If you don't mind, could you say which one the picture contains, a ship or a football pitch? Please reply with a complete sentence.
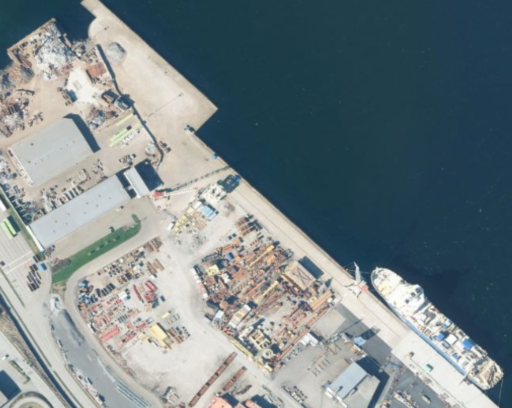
The one in the frame is a ship.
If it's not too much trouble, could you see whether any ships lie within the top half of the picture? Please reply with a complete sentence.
No, the scene shows no ship within the top half of the picture.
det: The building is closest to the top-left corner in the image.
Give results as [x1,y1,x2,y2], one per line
[10,119,93,187]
